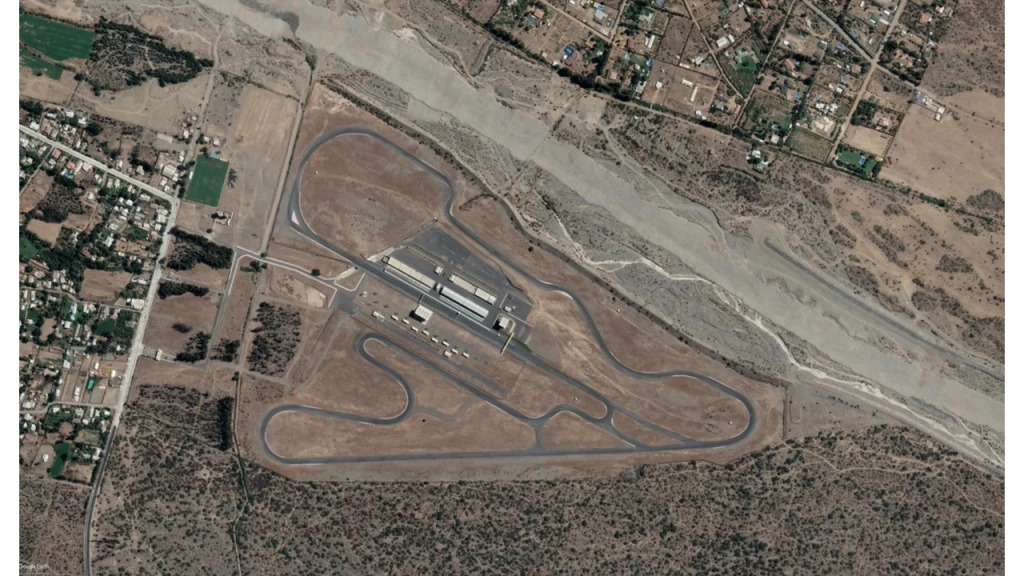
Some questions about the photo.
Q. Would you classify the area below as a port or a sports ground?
sports ground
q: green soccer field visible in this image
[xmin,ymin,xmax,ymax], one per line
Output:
[185,154,229,206]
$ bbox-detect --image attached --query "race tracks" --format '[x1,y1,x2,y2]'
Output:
[240,84,785,481]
